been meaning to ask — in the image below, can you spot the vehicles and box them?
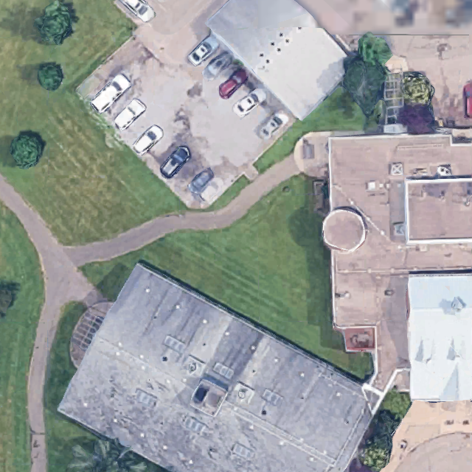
[233,86,267,117]
[160,143,190,178]
[113,98,148,132]
[216,66,250,98]
[257,109,291,140]
[203,50,234,79]
[131,123,166,157]
[119,0,154,23]
[186,35,220,66]
[187,166,215,197]
[401,0,424,26]
[86,72,131,113]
